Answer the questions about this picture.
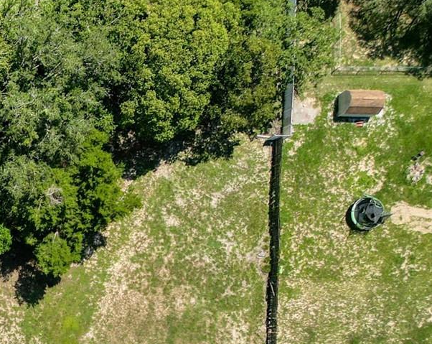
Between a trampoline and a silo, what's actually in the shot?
trampoline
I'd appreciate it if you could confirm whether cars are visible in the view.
No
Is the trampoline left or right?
right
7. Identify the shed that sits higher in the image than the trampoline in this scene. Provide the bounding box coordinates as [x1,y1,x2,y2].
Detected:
[337,90,389,117]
